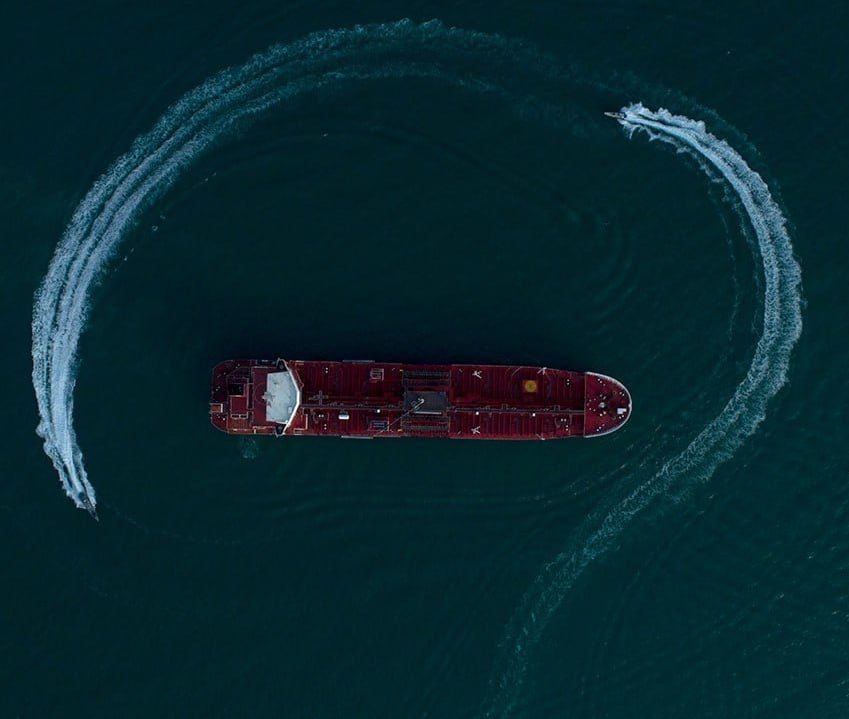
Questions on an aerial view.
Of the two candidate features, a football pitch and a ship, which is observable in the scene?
ship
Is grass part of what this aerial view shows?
No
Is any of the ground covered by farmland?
No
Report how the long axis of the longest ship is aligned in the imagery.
from side to side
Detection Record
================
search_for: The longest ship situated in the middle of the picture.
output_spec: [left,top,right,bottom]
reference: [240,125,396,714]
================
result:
[210,359,633,440]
